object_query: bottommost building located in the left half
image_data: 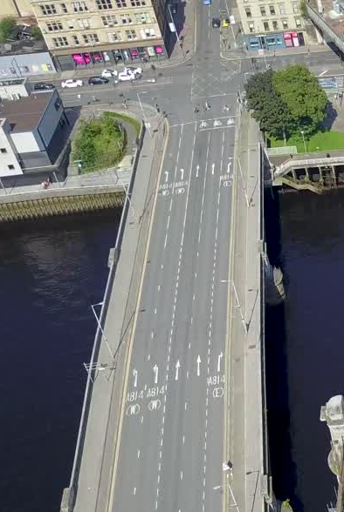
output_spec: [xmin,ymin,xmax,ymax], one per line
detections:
[0,76,68,178]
